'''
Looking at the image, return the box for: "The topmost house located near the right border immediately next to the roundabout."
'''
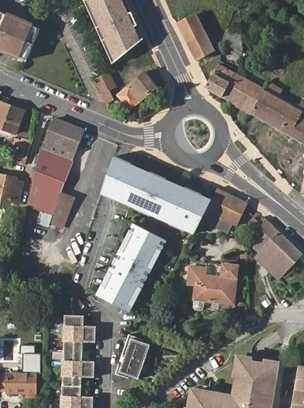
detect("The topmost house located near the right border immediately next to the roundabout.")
[207,64,304,144]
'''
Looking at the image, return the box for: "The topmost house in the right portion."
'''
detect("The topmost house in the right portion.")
[177,13,216,61]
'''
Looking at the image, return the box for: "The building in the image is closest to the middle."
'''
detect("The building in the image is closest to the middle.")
[102,154,212,234]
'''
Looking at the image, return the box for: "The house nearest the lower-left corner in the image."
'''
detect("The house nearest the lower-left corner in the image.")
[0,371,38,398]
